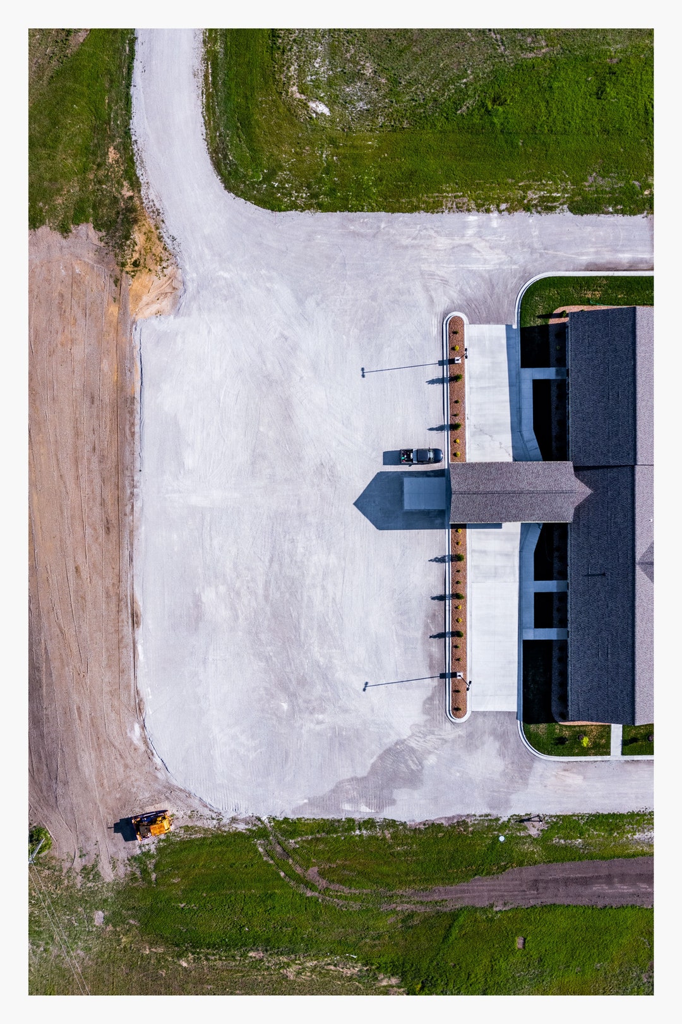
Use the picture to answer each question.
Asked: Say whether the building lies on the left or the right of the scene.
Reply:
right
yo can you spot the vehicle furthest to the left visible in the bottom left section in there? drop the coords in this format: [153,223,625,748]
[127,809,175,841]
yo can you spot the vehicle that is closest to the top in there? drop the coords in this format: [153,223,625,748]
[400,447,443,465]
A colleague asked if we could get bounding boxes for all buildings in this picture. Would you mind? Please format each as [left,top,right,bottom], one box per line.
[449,306,682,726]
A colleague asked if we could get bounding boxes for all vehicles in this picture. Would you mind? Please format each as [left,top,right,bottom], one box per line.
[127,809,175,841]
[400,447,443,465]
